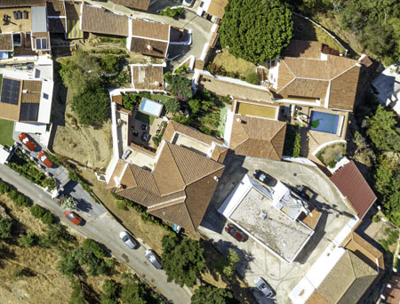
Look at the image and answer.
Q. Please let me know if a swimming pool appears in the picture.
Yes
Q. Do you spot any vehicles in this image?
Yes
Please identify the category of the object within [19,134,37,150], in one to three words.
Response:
car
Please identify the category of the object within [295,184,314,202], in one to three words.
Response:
car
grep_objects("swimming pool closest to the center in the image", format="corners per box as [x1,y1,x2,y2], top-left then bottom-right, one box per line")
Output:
[138,98,165,120]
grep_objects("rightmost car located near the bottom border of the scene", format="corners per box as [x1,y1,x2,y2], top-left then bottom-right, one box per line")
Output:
[256,277,272,296]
